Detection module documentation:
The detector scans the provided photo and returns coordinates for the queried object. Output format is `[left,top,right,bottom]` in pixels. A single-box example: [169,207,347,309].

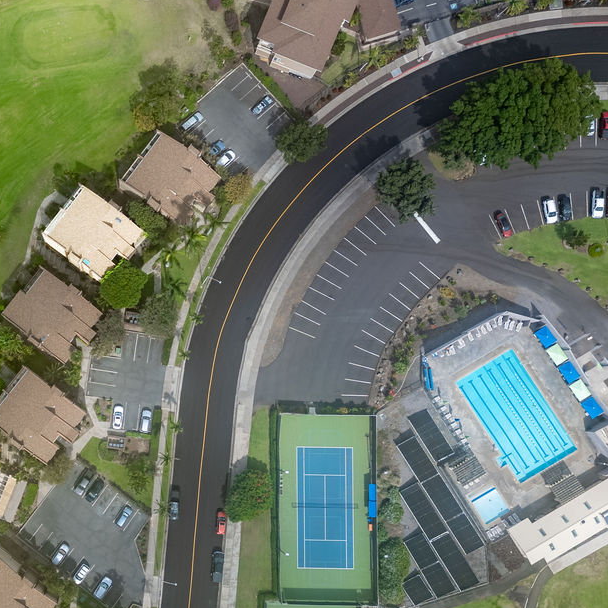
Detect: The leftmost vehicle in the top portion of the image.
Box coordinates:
[180,110,205,133]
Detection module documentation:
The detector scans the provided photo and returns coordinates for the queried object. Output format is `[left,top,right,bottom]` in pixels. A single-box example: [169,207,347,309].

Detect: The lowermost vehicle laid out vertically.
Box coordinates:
[210,551,223,581]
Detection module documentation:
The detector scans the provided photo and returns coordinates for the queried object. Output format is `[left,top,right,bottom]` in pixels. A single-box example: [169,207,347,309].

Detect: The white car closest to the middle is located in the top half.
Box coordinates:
[215,147,237,167]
